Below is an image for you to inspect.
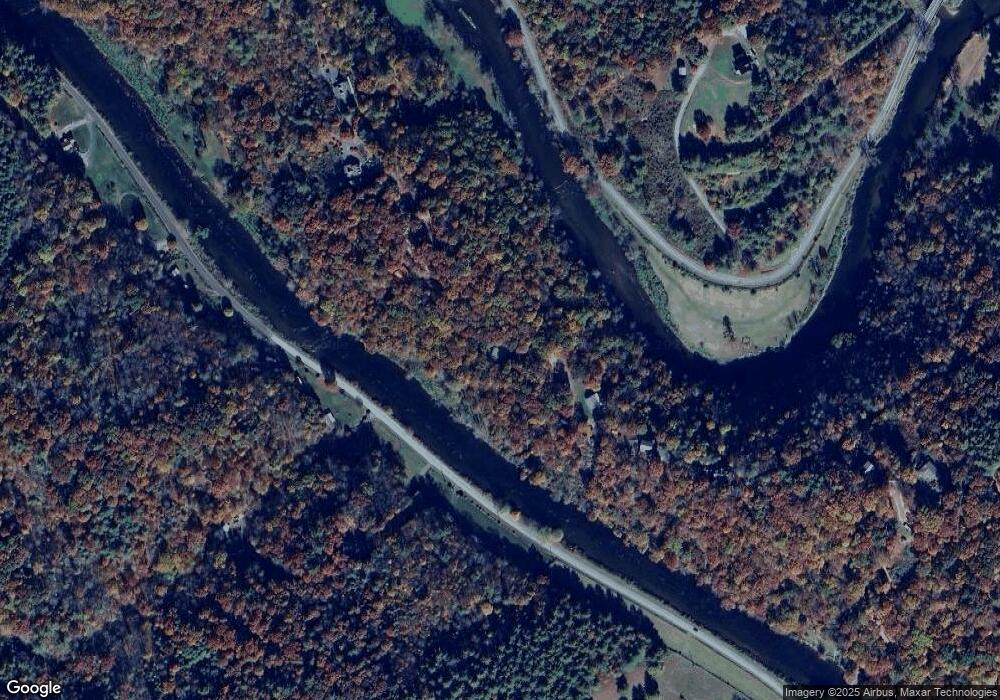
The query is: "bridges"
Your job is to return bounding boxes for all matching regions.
[904,0,941,52]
